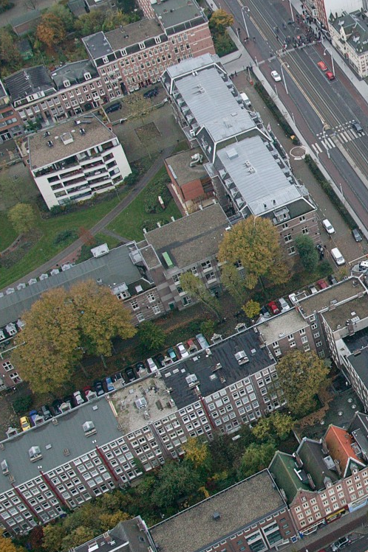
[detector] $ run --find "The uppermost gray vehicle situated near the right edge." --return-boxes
[351,119,363,134]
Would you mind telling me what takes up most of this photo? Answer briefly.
buildings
